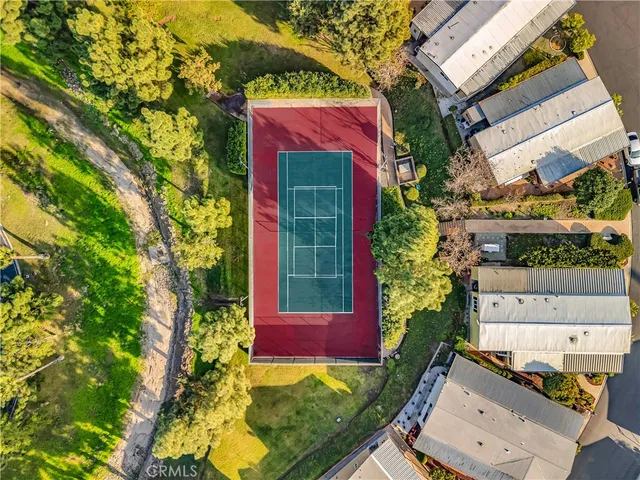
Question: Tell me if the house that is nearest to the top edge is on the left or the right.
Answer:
right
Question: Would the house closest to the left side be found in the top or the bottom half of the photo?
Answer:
bottom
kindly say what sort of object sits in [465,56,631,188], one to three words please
house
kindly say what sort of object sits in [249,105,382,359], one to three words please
tennis court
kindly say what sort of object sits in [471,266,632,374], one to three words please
house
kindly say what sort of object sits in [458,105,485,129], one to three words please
shed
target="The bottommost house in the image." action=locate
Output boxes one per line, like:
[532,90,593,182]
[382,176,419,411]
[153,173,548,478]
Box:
[346,429,423,480]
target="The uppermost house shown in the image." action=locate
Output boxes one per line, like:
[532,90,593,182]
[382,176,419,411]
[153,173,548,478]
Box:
[409,0,578,106]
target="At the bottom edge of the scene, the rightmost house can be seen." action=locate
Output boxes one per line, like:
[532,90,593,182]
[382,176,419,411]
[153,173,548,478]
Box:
[410,351,585,480]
